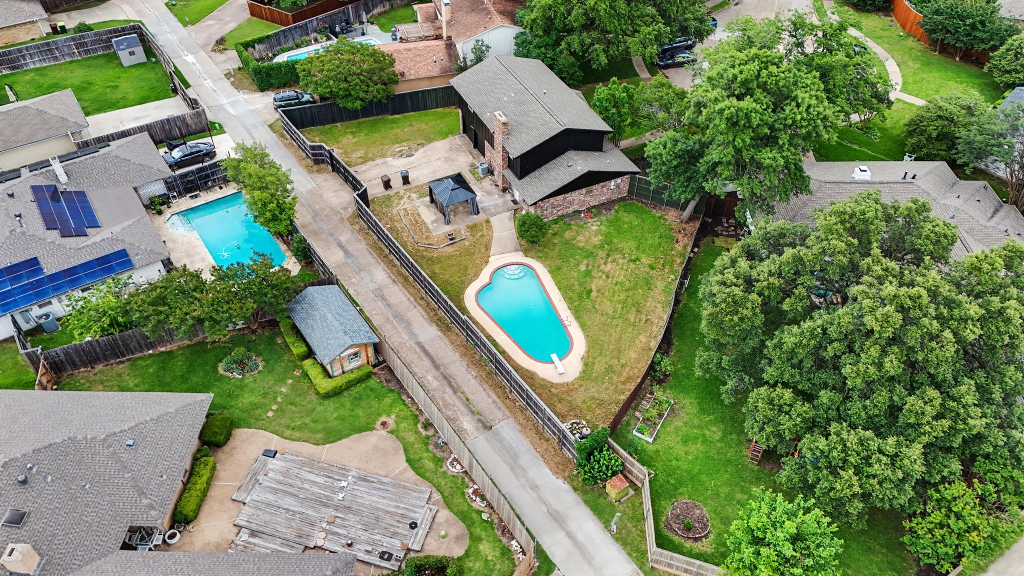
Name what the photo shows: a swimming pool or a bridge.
swimming pool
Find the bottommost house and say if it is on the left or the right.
left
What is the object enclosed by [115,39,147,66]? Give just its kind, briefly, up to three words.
shed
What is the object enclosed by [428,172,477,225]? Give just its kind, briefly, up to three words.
gazebo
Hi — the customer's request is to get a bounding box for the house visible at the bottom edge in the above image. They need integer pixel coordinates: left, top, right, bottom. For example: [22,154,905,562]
[0,390,364,576]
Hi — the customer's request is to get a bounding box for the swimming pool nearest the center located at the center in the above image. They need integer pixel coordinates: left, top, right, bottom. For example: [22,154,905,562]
[474,261,573,363]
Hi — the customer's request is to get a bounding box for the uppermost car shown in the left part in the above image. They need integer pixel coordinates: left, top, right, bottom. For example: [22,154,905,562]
[271,85,315,108]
